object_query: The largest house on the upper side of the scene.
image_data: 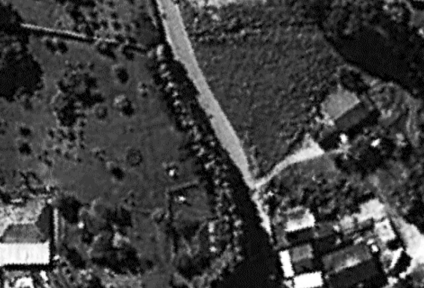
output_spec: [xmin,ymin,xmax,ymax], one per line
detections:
[321,89,363,129]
